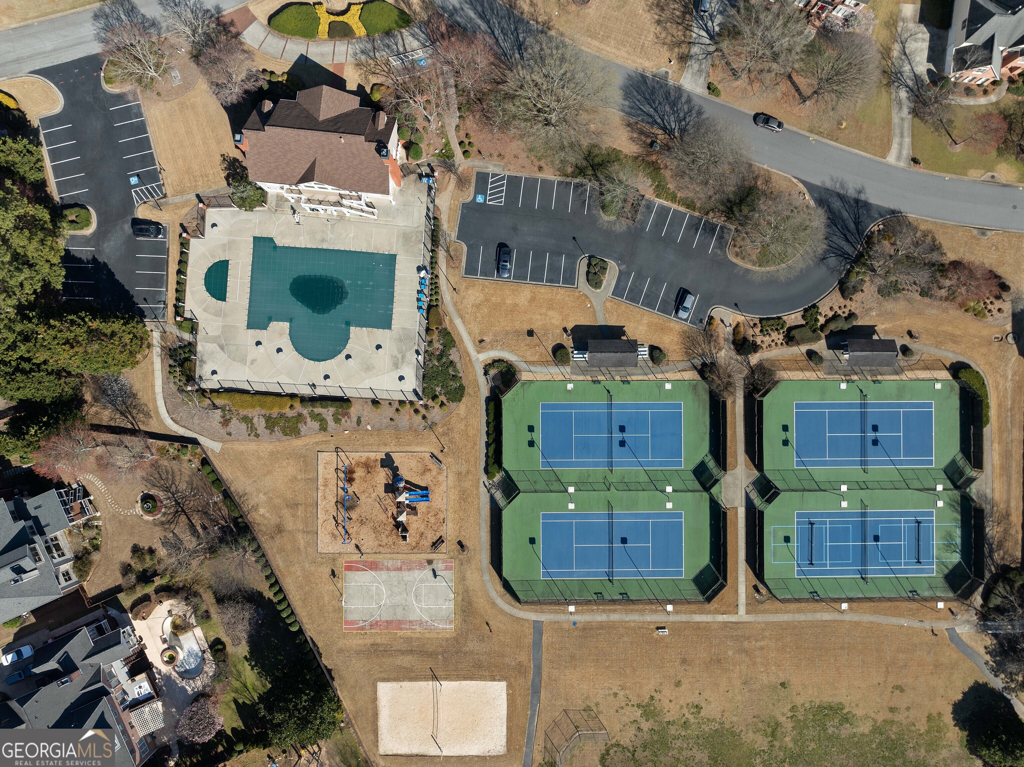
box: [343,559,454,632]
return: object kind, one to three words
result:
basketball court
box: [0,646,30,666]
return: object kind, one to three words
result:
car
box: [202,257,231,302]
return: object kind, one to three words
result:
swimming pool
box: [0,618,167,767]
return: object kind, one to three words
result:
house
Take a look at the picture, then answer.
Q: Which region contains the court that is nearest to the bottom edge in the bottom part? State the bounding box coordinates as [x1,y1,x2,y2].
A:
[378,682,506,756]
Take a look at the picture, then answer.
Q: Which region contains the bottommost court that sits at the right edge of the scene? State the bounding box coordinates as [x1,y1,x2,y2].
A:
[757,471,973,600]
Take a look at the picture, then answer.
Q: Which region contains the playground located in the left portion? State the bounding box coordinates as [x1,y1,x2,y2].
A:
[317,451,447,554]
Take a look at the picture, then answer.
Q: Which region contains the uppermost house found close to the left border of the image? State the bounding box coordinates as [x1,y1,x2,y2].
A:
[0,482,105,624]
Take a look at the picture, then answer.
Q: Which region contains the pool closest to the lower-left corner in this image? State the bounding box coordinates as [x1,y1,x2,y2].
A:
[159,613,205,679]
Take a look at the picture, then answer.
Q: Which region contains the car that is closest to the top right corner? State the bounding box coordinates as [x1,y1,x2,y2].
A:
[755,111,785,129]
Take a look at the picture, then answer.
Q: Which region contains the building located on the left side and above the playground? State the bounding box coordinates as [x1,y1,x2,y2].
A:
[234,85,404,219]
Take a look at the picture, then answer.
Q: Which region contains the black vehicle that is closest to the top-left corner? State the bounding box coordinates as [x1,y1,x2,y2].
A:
[130,222,161,236]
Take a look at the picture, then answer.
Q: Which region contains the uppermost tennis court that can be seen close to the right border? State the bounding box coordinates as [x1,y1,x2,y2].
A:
[770,380,973,490]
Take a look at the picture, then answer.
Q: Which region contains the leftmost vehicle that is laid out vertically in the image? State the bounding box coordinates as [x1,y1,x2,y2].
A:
[497,249,510,278]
